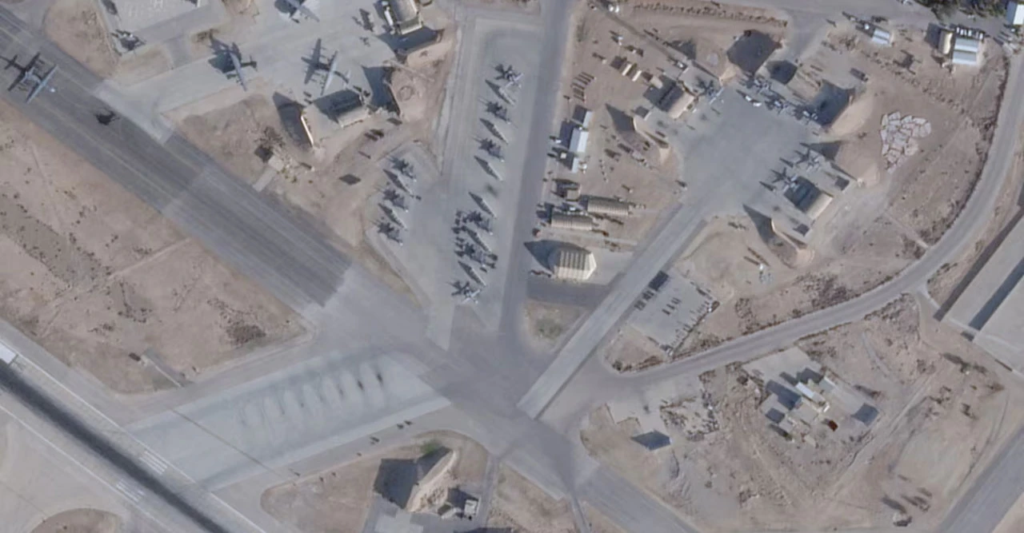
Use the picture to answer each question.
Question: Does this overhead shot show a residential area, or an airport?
airport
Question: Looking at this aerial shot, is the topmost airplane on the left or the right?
left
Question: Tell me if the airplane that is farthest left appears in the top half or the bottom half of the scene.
top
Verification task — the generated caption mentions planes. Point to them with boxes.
[489,103,509,123]
[19,63,58,103]
[225,48,260,94]
[804,110,822,128]
[317,49,352,96]
[482,141,502,160]
[394,161,414,180]
[504,70,522,88]
[285,0,319,22]
[782,174,801,192]
[472,213,491,233]
[463,287,481,305]
[386,192,406,211]
[707,86,725,104]
[381,225,401,244]
[463,246,484,267]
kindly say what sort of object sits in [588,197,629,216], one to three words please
tent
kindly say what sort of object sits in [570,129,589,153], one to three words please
shed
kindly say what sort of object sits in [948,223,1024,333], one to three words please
building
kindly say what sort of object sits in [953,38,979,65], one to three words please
building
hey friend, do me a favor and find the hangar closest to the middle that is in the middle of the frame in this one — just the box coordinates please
[549,246,596,284]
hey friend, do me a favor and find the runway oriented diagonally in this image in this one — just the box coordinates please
[0,338,265,533]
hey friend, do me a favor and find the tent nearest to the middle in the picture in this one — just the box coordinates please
[551,211,592,230]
